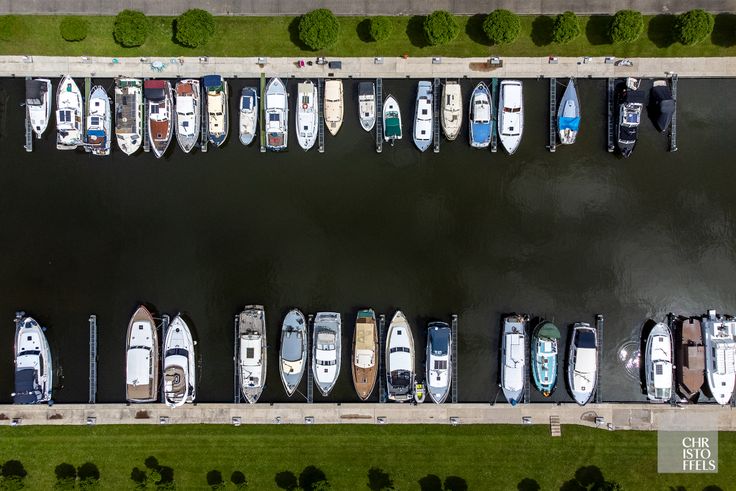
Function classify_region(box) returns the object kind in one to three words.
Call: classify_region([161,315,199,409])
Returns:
boat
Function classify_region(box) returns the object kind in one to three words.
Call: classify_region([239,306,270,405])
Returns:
boat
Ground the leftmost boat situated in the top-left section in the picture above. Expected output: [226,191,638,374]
[24,75,57,142]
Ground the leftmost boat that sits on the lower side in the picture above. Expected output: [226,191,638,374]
[11,318,57,406]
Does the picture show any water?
Yes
